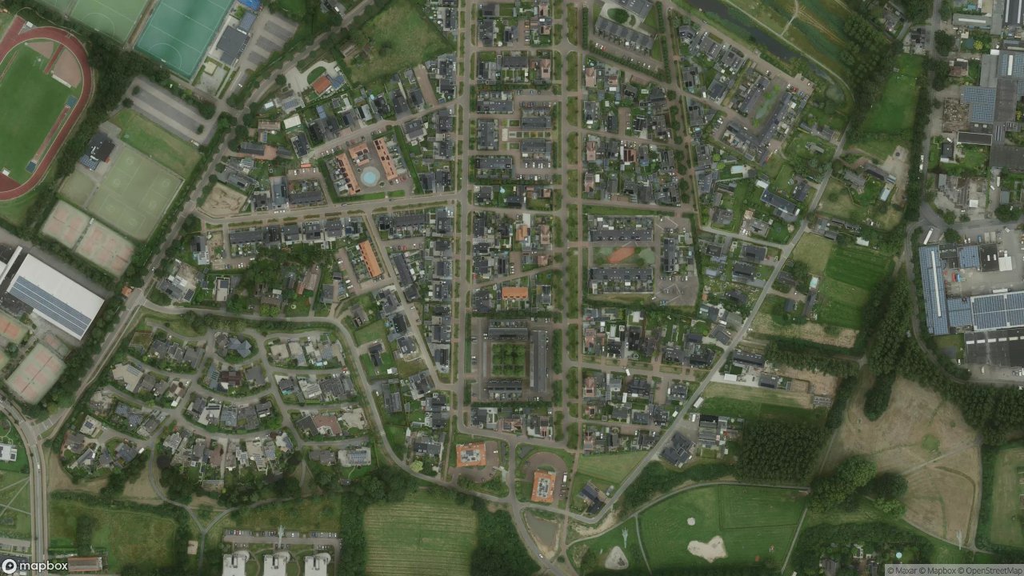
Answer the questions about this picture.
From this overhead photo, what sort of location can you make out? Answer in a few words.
residential area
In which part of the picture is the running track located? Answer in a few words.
top left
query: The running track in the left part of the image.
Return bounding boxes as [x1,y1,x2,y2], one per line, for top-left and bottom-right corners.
[0,15,94,199]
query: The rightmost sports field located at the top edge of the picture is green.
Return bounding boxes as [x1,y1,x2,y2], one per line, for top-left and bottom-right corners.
[134,0,244,80]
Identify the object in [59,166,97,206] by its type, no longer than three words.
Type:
sports field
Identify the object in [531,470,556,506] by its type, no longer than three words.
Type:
house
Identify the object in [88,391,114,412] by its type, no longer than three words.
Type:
building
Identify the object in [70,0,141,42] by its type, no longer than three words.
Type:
sports field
